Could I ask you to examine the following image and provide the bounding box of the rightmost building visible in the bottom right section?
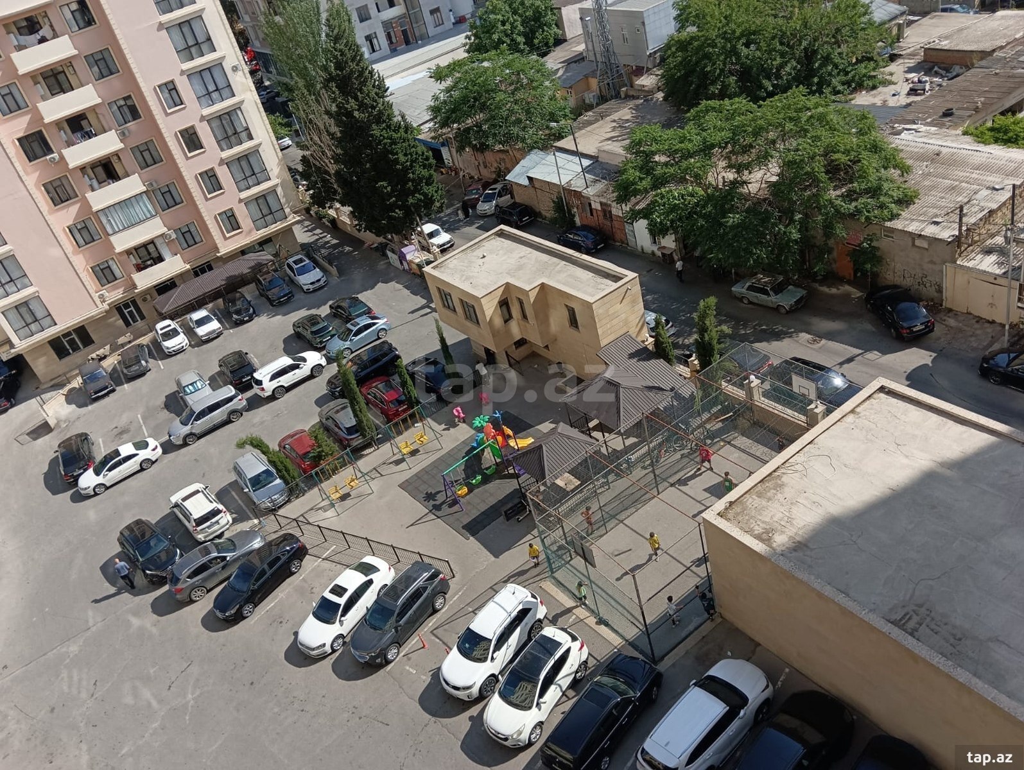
[700,378,1024,770]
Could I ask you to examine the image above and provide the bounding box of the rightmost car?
[958,345,1024,392]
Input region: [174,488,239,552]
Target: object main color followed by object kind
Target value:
white car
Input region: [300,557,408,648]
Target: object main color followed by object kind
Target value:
white car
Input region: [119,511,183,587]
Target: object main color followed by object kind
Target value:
black car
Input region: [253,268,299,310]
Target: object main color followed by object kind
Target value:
black car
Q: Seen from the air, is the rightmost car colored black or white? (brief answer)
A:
black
